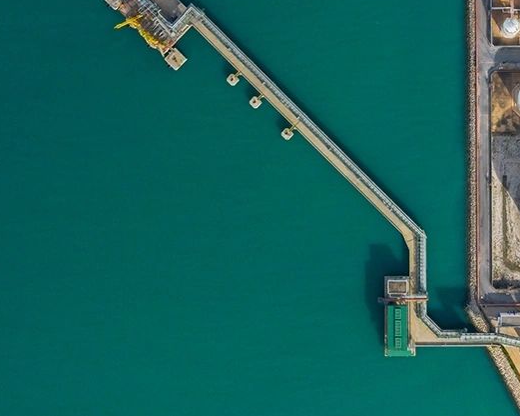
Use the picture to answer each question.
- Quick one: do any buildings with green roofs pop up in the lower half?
Yes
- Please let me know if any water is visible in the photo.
Yes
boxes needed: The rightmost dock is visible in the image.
[192,12,520,355]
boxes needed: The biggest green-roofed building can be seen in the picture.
[388,303,409,355]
